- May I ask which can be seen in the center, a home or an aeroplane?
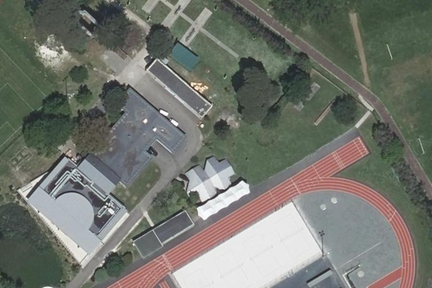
home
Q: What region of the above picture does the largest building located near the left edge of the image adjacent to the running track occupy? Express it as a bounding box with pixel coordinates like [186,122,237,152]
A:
[16,154,130,265]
